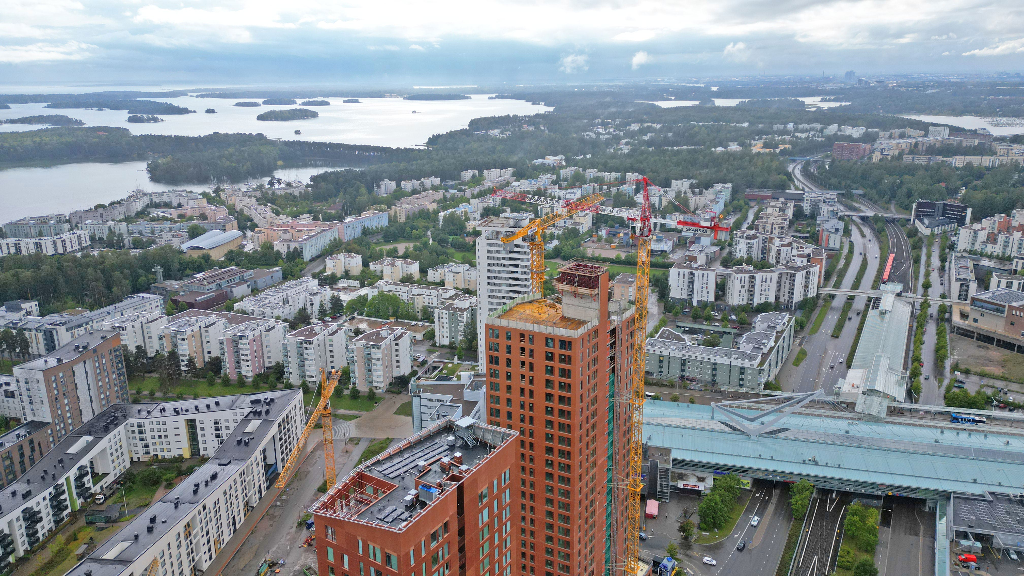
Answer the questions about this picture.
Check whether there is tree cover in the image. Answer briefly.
Yes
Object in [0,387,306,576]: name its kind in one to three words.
building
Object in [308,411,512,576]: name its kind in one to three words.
building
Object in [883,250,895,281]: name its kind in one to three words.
train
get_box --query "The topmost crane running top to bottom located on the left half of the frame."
[275,365,342,501]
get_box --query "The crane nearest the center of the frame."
[498,193,604,295]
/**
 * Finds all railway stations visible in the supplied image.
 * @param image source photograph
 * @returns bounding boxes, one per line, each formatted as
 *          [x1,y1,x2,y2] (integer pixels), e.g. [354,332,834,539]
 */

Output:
[832,282,913,422]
